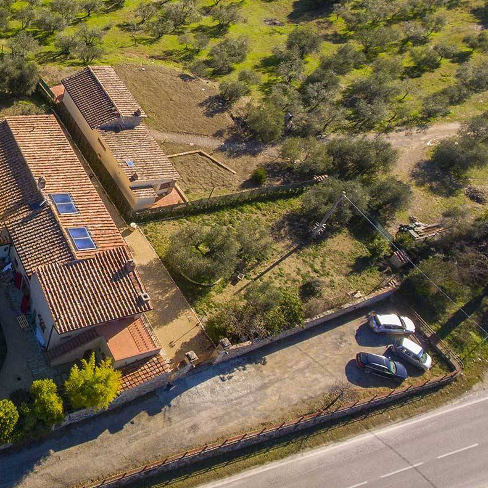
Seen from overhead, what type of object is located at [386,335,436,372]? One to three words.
car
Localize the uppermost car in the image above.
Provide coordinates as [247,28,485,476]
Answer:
[365,315,416,339]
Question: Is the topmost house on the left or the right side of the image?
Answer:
left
